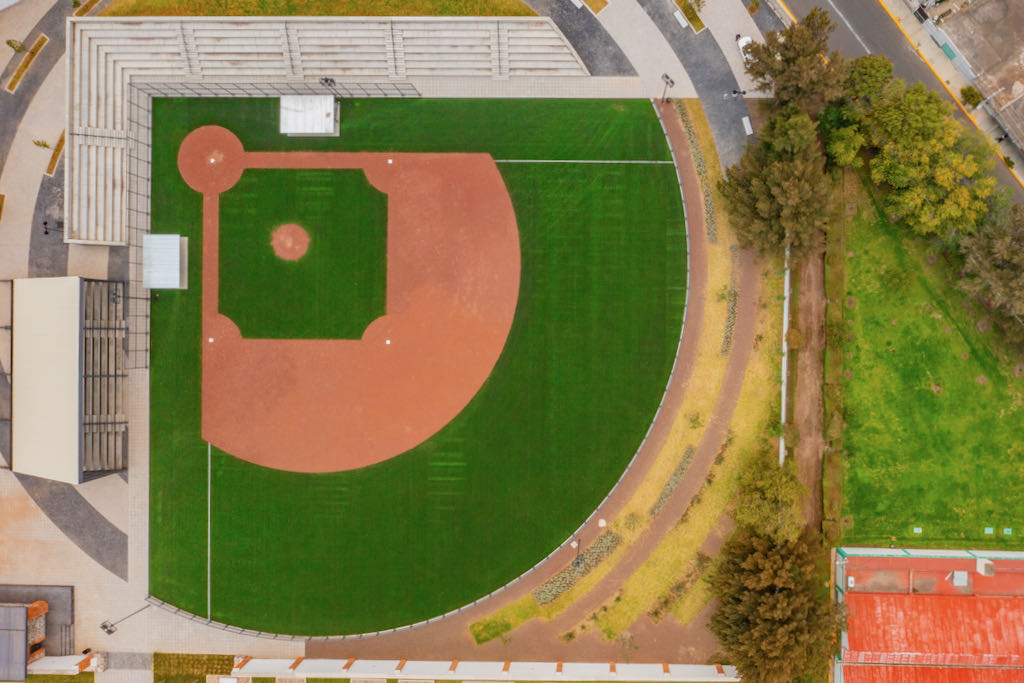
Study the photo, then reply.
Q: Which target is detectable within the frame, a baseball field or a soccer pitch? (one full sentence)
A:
This aerial view contains a baseball field.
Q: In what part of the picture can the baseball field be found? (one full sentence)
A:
Look in the center portion of the view to spot the baseball field.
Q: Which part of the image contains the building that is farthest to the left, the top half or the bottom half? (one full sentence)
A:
Seen from above, the building that is farthest to the left lies in the bottom half of the view.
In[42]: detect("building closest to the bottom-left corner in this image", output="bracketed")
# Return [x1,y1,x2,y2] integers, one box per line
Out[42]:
[0,603,45,681]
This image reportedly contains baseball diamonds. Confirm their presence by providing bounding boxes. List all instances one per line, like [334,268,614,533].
[150,97,688,638]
